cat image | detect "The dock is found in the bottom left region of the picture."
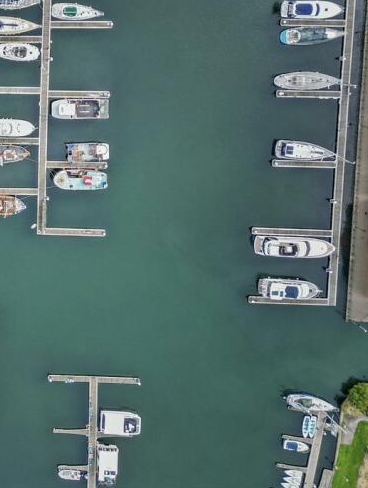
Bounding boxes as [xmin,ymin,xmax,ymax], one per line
[48,374,141,488]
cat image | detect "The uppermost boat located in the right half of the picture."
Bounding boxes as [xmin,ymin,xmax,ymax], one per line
[279,0,346,19]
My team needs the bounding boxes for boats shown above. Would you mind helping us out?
[0,16,41,36]
[256,277,319,301]
[99,410,141,441]
[54,169,108,191]
[253,235,336,259]
[0,118,35,137]
[0,0,40,10]
[279,0,346,19]
[273,140,347,164]
[0,145,33,165]
[282,439,310,453]
[0,194,26,219]
[279,25,346,45]
[0,41,42,61]
[285,394,354,446]
[96,442,120,487]
[58,469,91,481]
[61,142,110,162]
[273,71,343,90]
[52,98,110,120]
[48,3,104,22]
[303,416,311,438]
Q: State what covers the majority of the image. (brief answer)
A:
water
